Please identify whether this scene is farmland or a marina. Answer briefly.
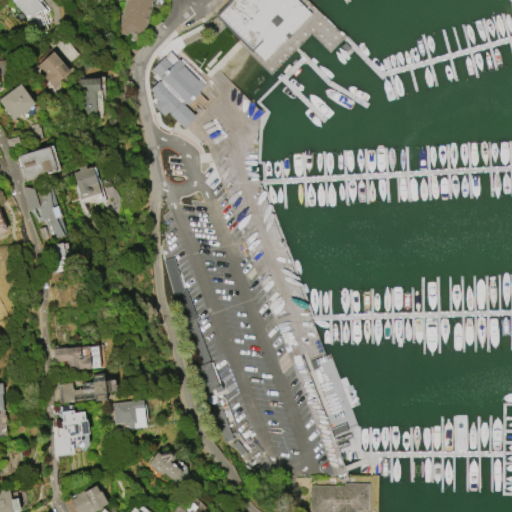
marina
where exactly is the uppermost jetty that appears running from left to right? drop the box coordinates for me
[344,12,512,97]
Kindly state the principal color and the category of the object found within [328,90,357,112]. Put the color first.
white boat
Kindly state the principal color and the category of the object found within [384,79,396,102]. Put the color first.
white boat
